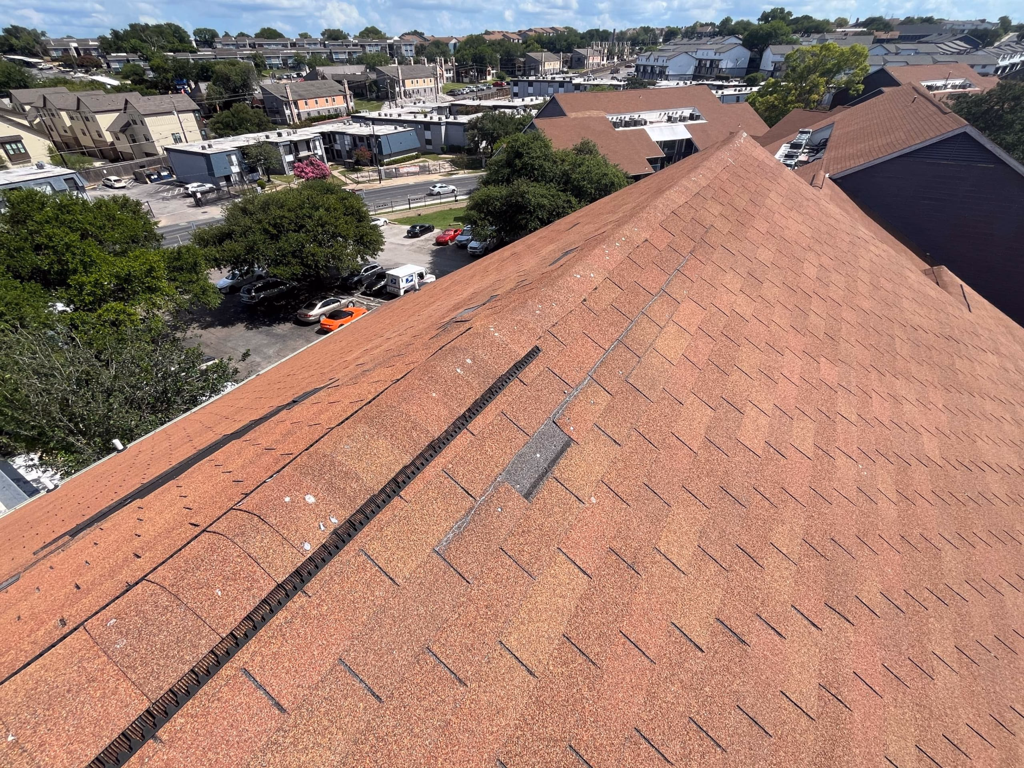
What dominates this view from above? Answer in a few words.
buildings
